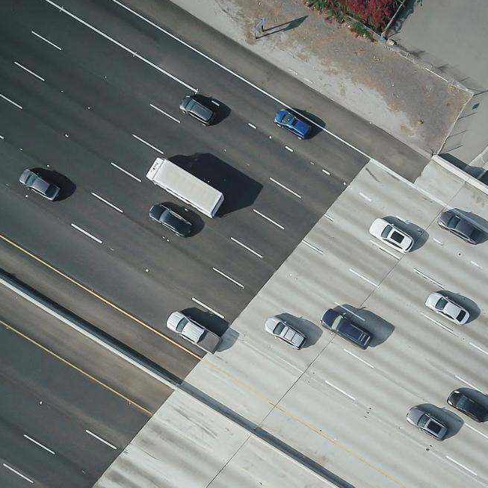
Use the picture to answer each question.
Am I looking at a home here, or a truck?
truck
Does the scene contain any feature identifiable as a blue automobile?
Yes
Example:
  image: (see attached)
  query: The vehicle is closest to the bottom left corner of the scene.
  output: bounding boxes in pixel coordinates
[166,312,223,355]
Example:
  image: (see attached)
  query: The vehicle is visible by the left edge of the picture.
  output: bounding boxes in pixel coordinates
[19,169,62,202]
